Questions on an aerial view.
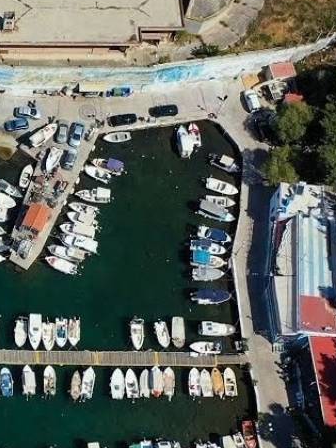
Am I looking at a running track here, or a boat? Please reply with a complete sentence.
This aerial view contains a boat.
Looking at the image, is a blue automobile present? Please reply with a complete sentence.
Yes, a blue automobile appears in the view.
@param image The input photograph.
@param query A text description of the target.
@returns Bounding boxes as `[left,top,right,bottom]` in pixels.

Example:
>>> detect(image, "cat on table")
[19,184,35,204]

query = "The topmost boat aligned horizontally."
[96,132,131,145]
